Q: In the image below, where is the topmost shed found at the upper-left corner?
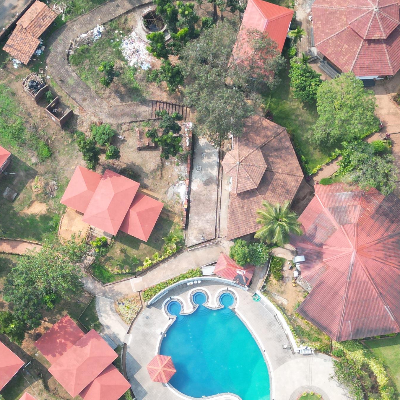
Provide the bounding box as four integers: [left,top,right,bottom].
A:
[2,0,59,66]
